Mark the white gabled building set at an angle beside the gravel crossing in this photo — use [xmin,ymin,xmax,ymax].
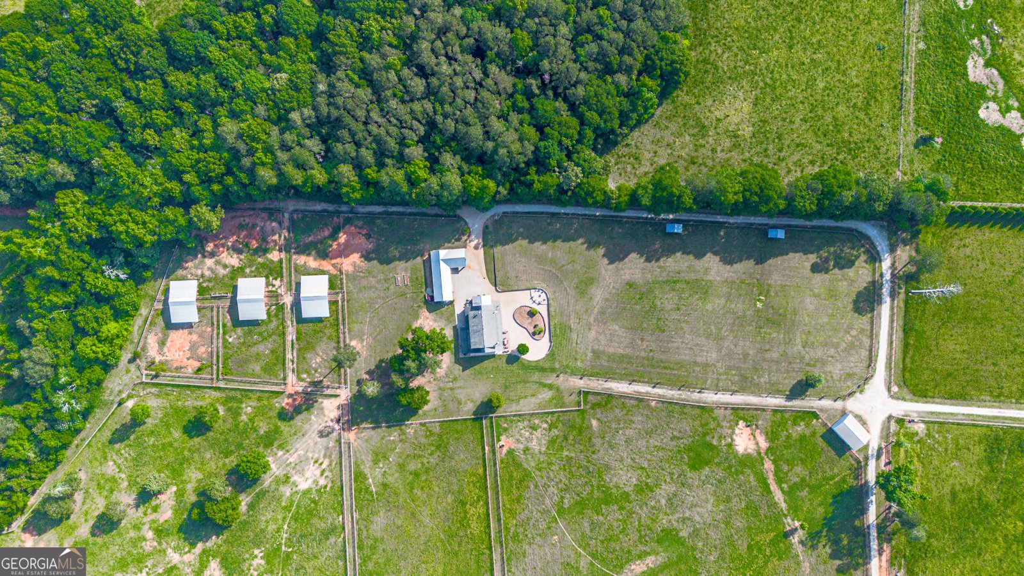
[831,413,871,450]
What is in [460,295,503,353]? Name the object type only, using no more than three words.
house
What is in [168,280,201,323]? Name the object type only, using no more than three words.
shed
